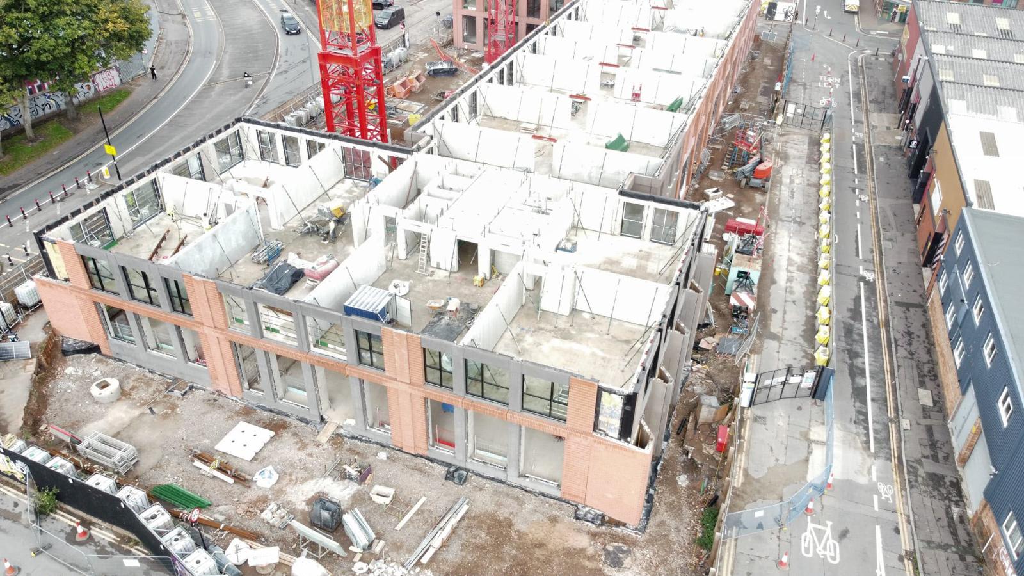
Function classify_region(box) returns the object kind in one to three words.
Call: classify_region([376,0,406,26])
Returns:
vehicle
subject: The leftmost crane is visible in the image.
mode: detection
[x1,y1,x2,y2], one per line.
[312,0,394,179]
